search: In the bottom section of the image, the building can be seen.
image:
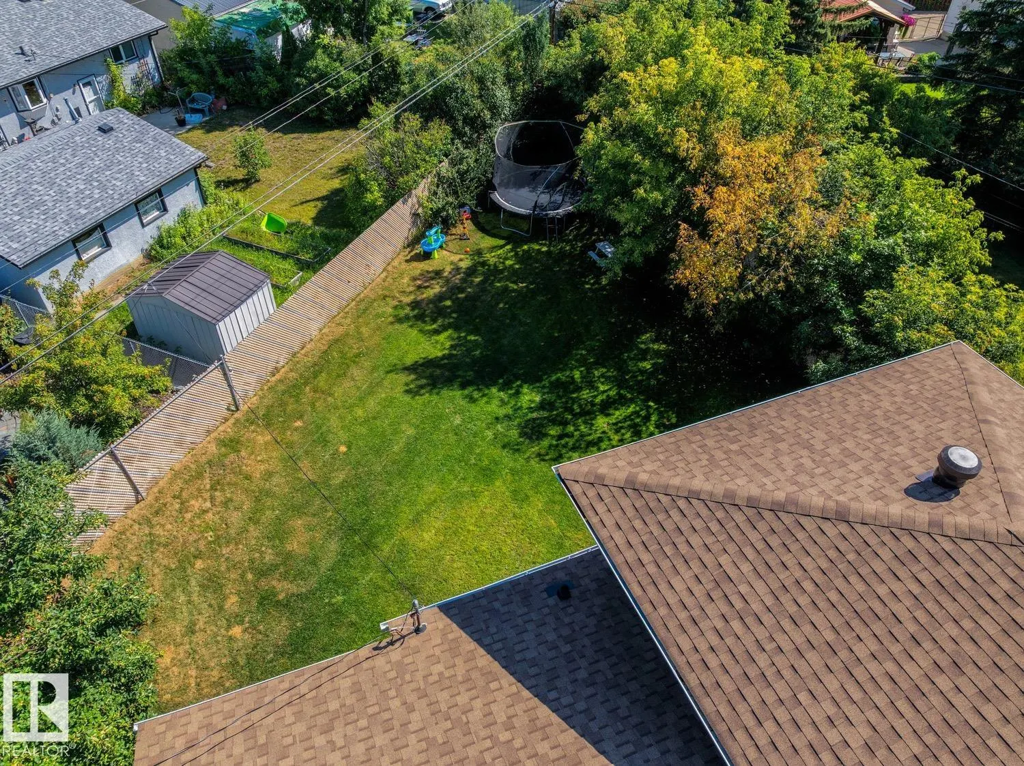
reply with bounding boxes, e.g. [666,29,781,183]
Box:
[126,338,1024,766]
